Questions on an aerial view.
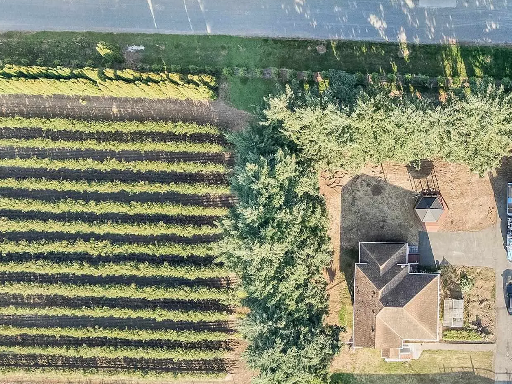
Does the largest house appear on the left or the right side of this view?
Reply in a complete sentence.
It is on the right.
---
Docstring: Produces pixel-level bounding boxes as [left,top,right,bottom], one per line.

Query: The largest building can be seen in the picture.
[350,241,440,362]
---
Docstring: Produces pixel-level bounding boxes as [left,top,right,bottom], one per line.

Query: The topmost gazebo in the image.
[414,196,447,233]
